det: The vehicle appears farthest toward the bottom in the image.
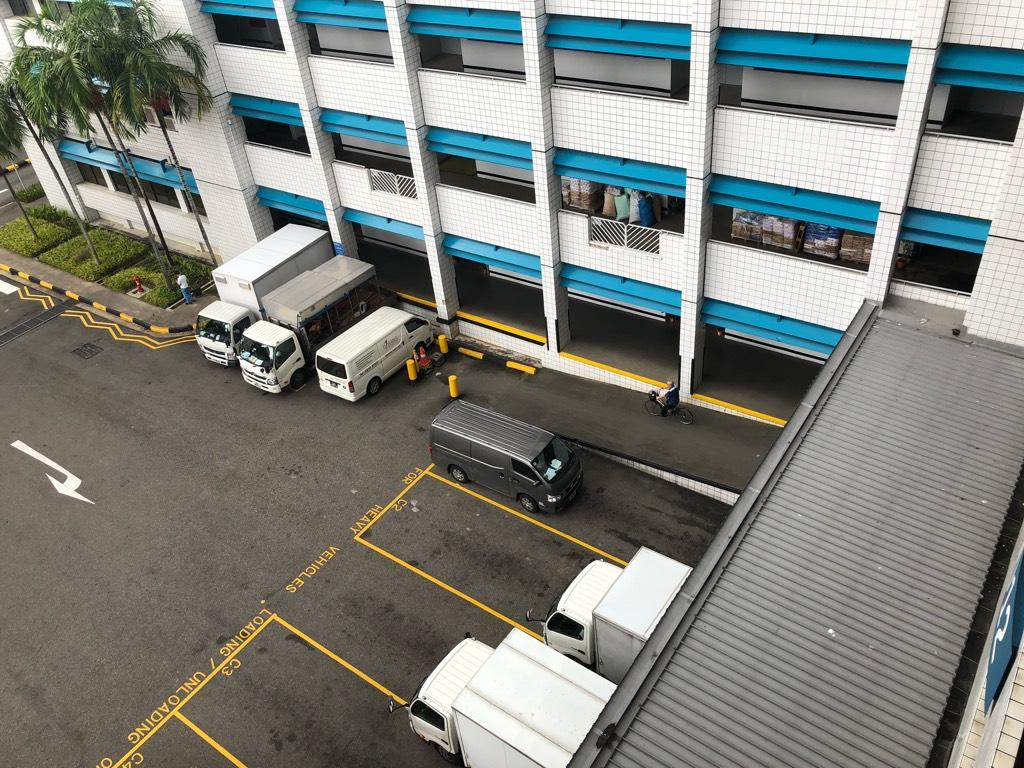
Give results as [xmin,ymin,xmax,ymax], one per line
[395,626,615,768]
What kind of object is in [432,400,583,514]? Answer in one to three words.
van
